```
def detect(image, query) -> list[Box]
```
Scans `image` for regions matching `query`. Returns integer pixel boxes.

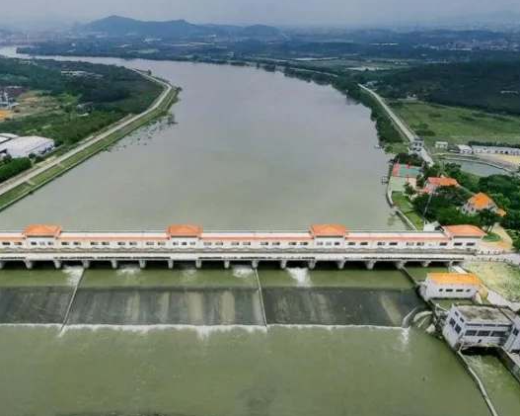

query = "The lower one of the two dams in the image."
[0,290,421,326]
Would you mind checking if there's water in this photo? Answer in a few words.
Yes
